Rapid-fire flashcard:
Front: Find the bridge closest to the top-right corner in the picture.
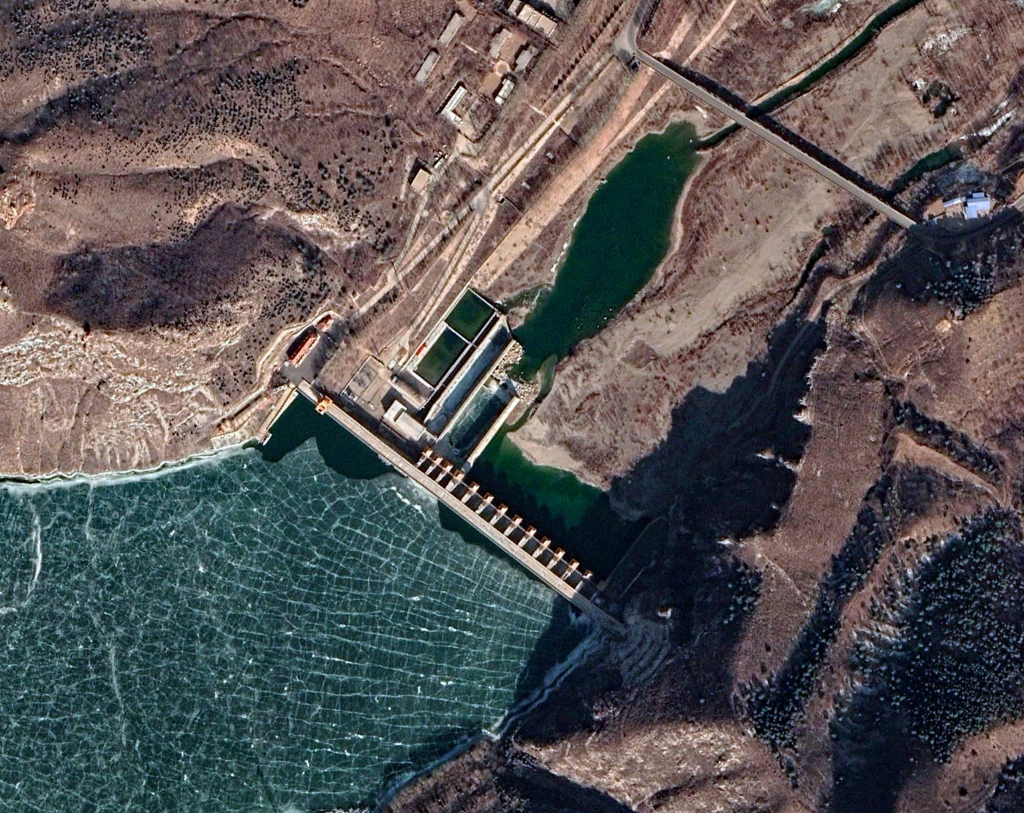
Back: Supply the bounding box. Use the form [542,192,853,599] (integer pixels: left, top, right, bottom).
[633,48,915,230]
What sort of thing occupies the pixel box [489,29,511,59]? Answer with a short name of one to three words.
building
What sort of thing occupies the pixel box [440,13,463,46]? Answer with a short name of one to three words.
building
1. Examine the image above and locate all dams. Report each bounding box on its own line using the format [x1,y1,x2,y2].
[297,380,627,635]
